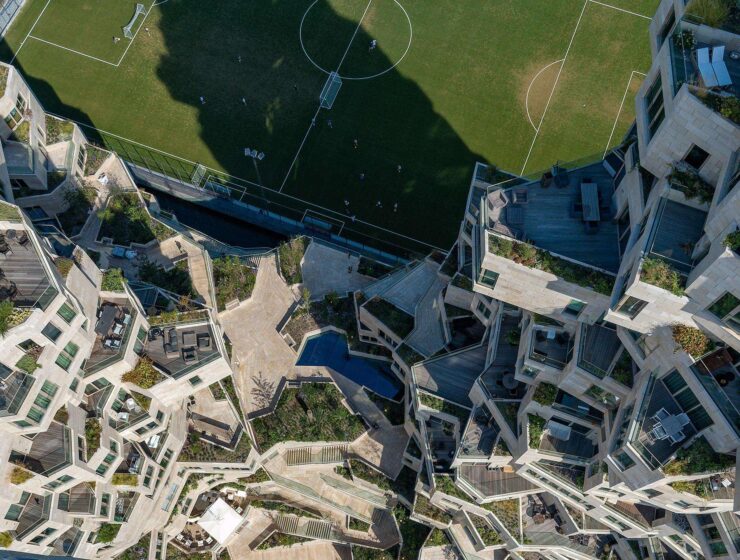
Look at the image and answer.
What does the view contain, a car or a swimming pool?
swimming pool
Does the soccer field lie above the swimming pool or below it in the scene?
above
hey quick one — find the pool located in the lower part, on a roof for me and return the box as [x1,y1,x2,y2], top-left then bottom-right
[298,330,404,401]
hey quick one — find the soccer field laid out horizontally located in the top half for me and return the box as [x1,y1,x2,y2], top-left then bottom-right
[0,0,684,259]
